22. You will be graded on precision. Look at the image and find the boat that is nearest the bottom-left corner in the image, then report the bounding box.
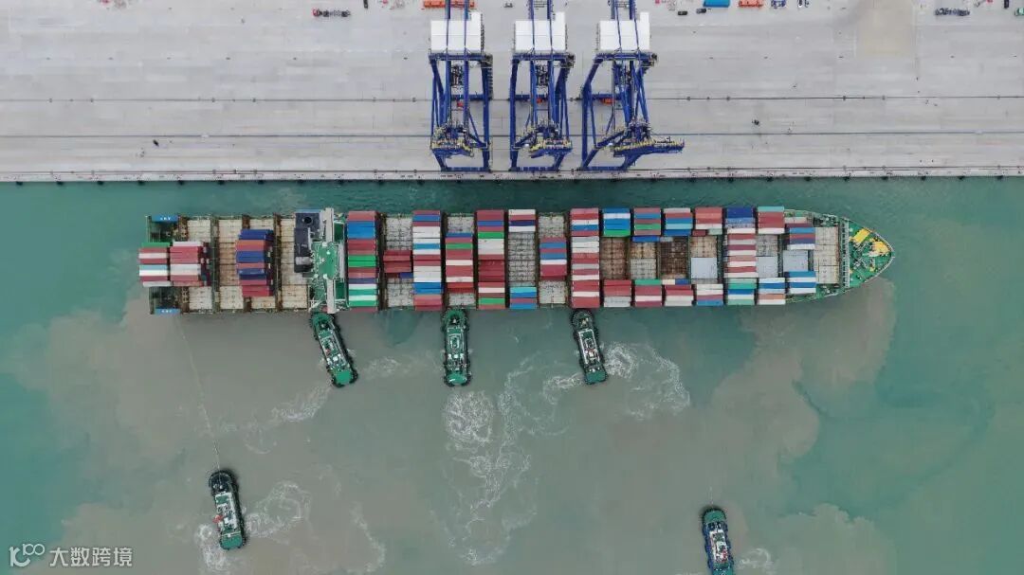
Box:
[209,472,245,550]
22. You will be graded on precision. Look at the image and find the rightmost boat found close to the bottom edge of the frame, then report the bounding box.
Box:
[701,507,736,575]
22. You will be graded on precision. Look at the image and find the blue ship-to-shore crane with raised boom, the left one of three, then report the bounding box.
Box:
[426,0,496,171]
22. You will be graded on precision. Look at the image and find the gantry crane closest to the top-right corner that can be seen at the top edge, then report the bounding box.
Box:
[573,0,685,171]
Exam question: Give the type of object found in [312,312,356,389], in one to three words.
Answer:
boat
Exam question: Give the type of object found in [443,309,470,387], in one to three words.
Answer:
boat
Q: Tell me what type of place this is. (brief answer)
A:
port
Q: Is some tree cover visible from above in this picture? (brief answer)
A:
No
